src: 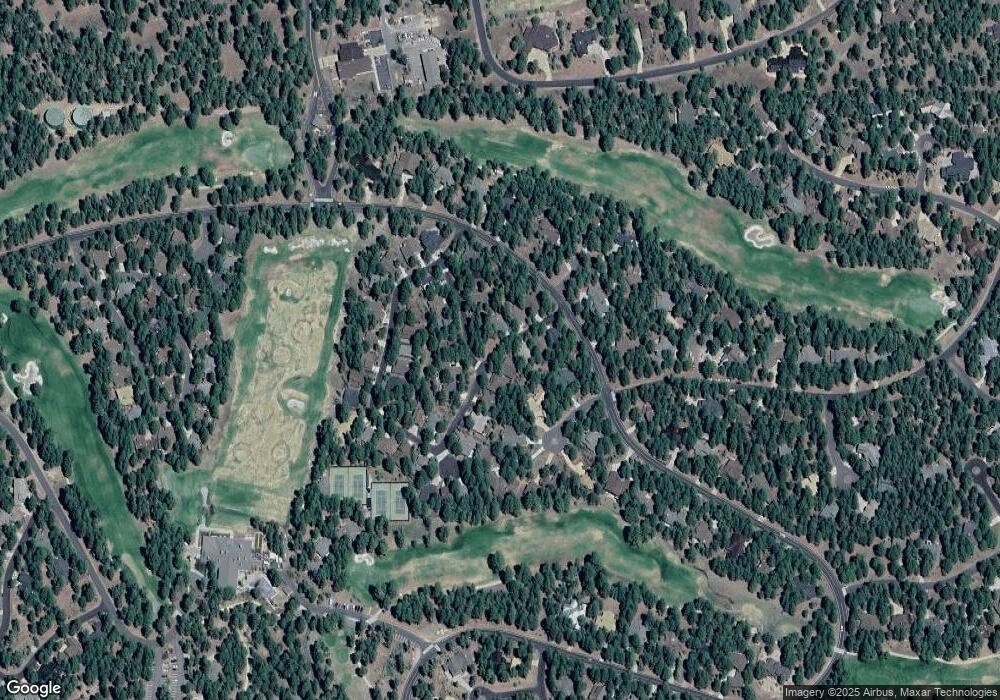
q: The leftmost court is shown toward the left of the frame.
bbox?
[330,466,366,504]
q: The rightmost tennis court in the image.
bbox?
[372,481,408,520]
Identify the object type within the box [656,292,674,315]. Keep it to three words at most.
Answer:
house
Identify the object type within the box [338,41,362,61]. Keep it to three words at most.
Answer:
building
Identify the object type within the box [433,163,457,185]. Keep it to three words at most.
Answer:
house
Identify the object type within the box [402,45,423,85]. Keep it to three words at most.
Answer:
building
